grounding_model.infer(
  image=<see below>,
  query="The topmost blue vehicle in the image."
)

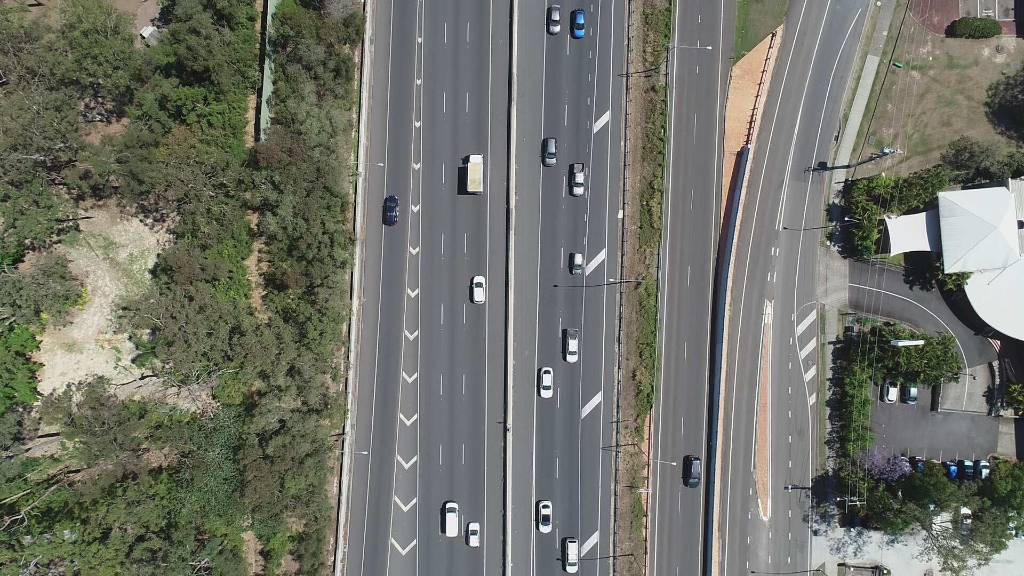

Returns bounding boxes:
[573,6,587,38]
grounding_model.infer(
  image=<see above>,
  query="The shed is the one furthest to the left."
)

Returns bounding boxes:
[131,14,171,50]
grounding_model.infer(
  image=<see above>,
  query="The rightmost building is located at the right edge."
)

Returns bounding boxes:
[935,179,1024,339]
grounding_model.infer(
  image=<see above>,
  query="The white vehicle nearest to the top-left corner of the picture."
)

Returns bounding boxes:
[466,153,484,194]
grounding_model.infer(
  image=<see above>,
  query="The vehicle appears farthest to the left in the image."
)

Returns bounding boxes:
[383,195,398,225]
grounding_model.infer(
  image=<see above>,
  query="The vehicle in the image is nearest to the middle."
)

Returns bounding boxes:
[471,275,485,304]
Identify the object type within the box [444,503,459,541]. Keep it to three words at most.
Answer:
vehicle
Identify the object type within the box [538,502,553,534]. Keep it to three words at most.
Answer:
car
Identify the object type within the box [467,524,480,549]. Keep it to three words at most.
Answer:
vehicle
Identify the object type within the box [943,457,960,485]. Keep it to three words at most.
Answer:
car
